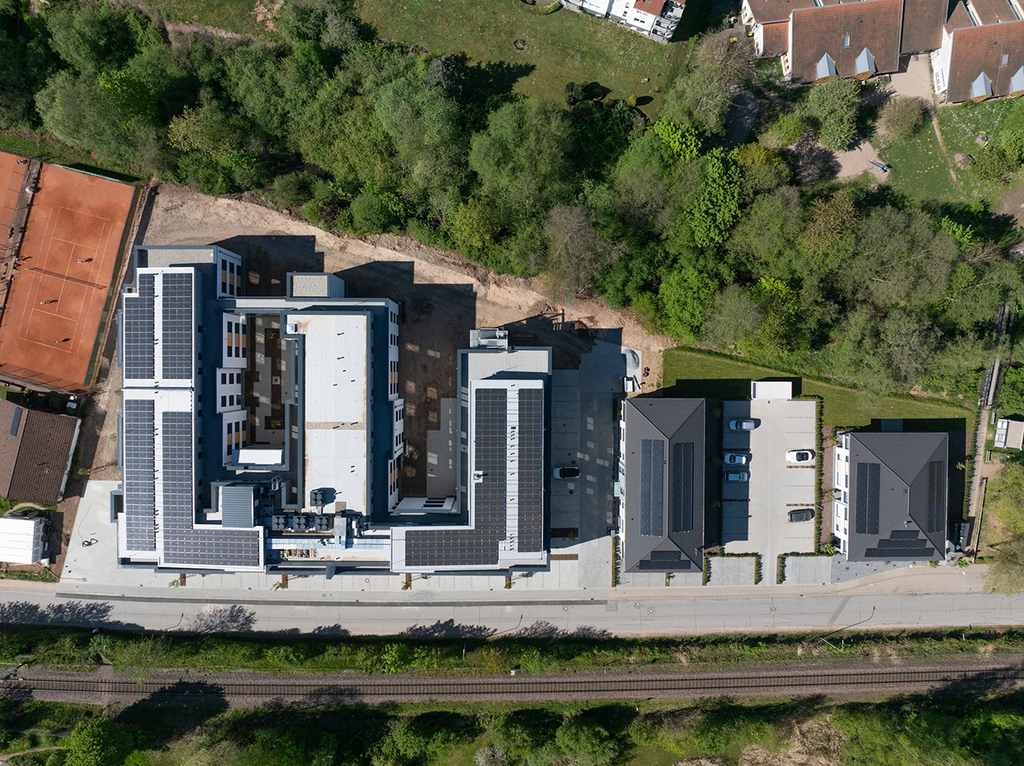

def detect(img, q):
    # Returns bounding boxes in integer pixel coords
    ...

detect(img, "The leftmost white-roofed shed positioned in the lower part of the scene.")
[0,512,49,564]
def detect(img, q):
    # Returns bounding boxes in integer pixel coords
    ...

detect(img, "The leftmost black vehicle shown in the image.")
[553,466,581,480]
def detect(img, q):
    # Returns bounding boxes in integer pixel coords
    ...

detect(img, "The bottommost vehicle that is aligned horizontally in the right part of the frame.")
[785,507,815,522]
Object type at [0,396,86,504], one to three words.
house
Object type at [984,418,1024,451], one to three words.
shed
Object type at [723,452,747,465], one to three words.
vehicle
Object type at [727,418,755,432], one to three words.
car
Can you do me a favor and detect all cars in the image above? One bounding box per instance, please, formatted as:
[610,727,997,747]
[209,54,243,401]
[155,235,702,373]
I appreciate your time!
[723,452,747,465]
[785,507,815,522]
[727,418,755,432]
[553,466,581,480]
[784,449,813,463]
[723,470,749,484]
